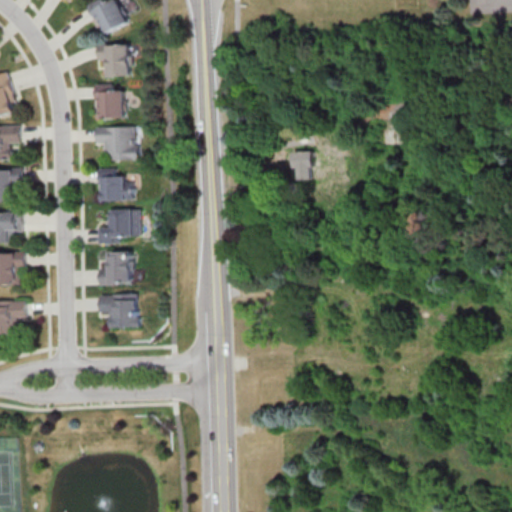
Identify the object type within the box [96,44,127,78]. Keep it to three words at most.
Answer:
house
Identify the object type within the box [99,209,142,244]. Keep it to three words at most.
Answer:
house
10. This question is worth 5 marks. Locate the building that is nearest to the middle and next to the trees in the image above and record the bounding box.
[289,152,312,180]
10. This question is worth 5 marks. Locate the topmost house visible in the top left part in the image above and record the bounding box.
[87,0,124,33]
